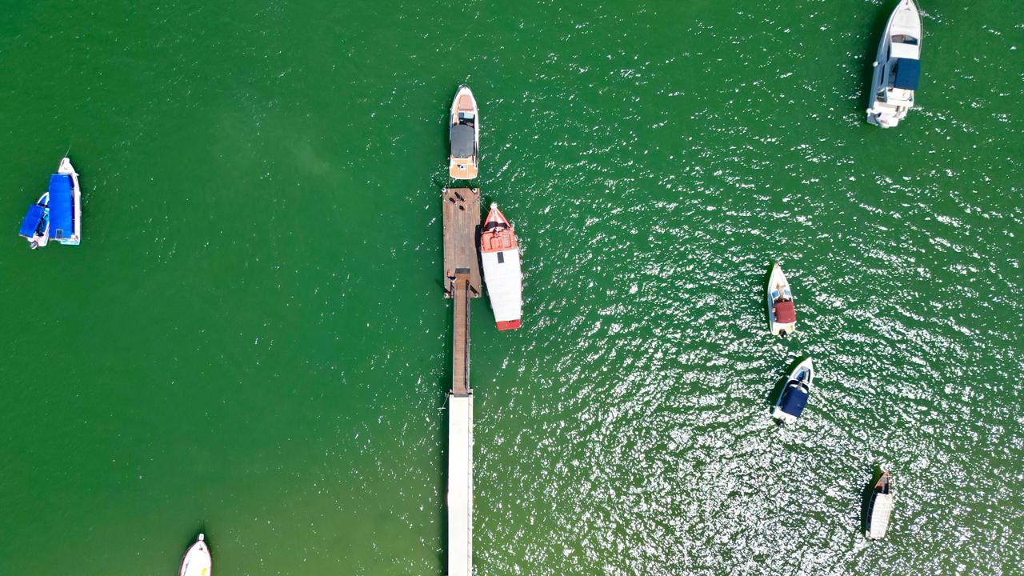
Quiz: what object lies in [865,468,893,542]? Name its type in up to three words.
boat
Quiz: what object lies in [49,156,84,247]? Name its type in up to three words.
boat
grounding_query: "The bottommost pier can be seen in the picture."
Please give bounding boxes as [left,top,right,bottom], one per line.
[446,388,473,576]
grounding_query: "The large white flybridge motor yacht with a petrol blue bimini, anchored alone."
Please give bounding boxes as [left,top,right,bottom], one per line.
[865,0,924,129]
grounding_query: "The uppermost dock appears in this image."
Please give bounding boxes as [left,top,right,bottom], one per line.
[442,187,482,299]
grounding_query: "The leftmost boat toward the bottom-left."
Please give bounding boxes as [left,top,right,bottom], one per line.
[179,536,213,576]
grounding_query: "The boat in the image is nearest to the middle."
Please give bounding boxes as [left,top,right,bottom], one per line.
[479,203,522,331]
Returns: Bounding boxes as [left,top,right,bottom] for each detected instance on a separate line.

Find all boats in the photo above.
[774,356,814,424]
[446,83,481,179]
[479,203,522,331]
[179,536,213,576]
[767,264,796,338]
[21,191,50,250]
[49,156,84,247]
[865,0,924,129]
[865,468,893,542]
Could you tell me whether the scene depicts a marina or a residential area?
marina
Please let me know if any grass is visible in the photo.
No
